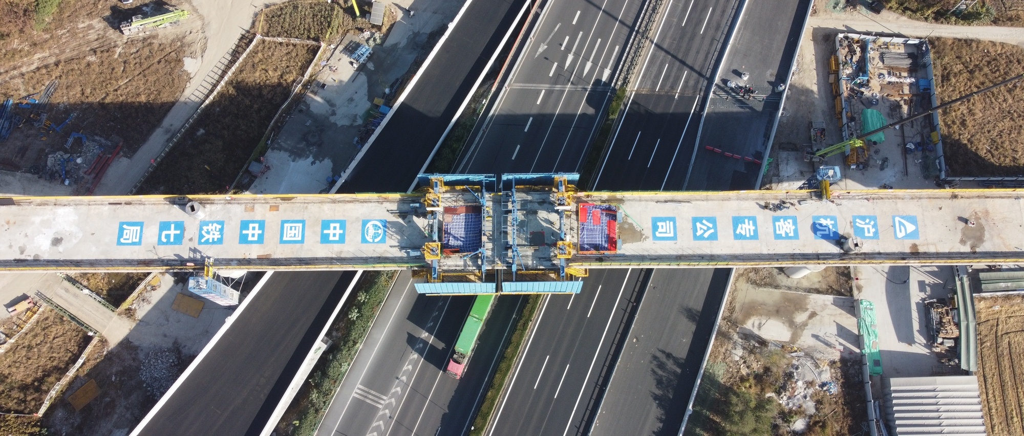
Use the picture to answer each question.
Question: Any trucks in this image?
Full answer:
Yes, the frame does contain a truck.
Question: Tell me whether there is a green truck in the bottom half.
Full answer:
Yes, a green truck can be seen in the bottom half.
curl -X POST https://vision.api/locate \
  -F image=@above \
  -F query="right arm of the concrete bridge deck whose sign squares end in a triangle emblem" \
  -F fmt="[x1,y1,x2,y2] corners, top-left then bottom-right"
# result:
[507,193,1024,282]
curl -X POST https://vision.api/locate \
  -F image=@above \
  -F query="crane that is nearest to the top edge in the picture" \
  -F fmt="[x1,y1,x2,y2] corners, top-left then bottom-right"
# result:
[118,6,192,43]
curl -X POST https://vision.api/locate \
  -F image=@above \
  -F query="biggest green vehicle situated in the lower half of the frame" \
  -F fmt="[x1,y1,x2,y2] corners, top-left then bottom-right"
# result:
[449,296,495,383]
